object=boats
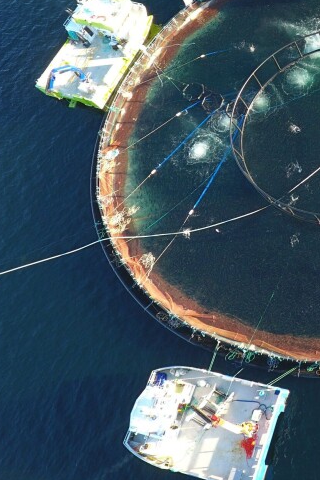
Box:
[31,0,162,111]
[119,367,298,480]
